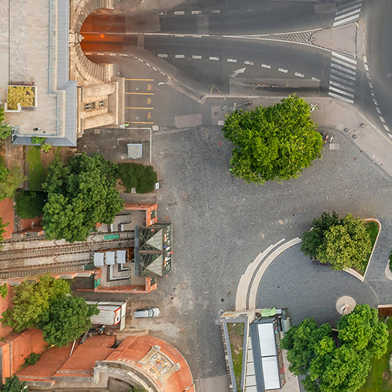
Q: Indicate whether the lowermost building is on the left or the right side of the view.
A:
right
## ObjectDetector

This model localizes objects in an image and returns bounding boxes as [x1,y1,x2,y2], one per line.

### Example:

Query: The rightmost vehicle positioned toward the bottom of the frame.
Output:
[132,305,163,320]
